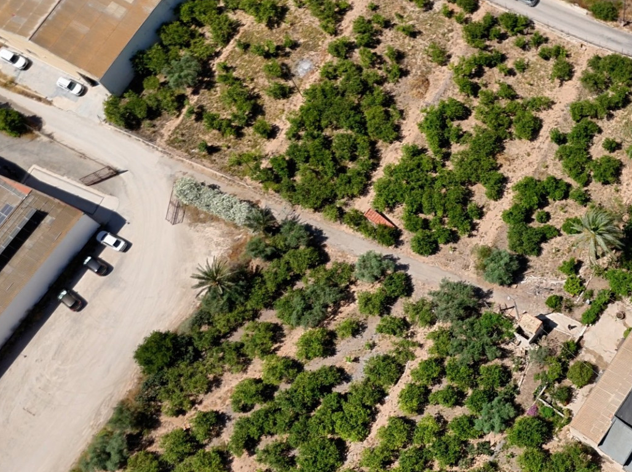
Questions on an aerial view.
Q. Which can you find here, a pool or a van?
van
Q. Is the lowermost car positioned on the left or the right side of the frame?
left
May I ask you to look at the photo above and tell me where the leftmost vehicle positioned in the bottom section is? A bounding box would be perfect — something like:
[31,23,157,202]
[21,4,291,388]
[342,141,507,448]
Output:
[53,286,88,315]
